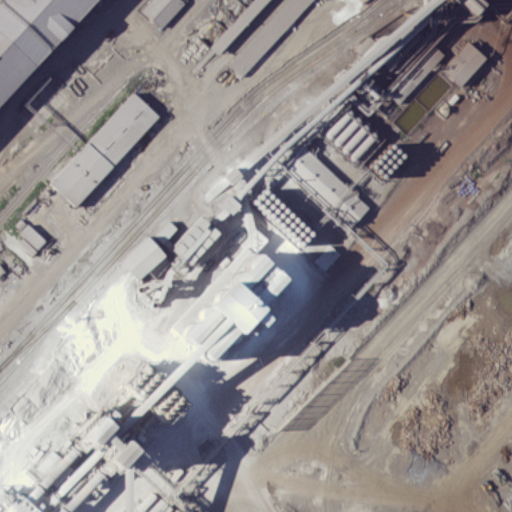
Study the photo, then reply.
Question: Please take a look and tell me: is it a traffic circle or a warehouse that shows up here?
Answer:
warehouse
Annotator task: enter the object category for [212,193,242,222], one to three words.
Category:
house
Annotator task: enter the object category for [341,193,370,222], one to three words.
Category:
building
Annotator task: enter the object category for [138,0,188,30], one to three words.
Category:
shed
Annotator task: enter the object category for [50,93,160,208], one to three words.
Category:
warehouse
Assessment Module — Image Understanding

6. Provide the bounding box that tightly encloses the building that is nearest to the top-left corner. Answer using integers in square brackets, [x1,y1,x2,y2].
[0,0,100,108]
